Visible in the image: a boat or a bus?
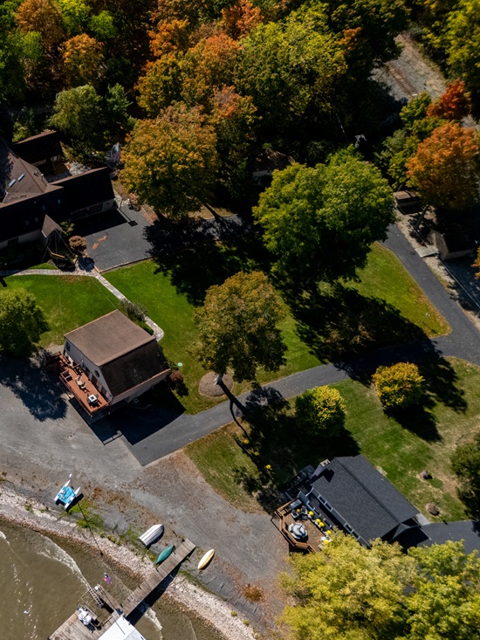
boat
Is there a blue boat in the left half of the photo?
Yes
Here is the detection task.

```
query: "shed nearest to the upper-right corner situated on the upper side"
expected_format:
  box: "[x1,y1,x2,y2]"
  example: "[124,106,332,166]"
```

[388,189,420,208]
